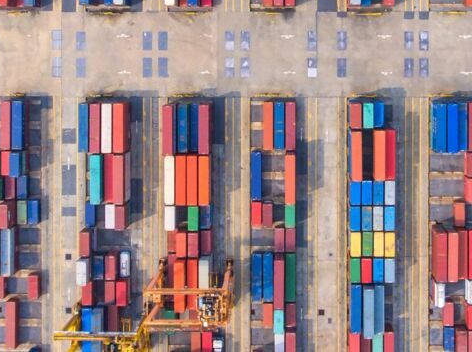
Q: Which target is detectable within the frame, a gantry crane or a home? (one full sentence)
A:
The image shows a gantry crane.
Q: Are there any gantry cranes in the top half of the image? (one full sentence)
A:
No, the scene shows no gantry crane in the top half of the image.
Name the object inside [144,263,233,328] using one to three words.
container crane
